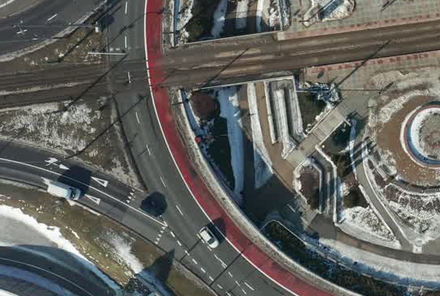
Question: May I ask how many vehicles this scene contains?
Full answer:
I count 3 vehicles.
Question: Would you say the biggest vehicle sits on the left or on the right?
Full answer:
The biggest vehicle sits on the left side.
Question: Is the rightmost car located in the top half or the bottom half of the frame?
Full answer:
The rightmost car is in the bottom half of the image.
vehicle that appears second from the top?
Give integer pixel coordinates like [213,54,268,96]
[136,196,163,219]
